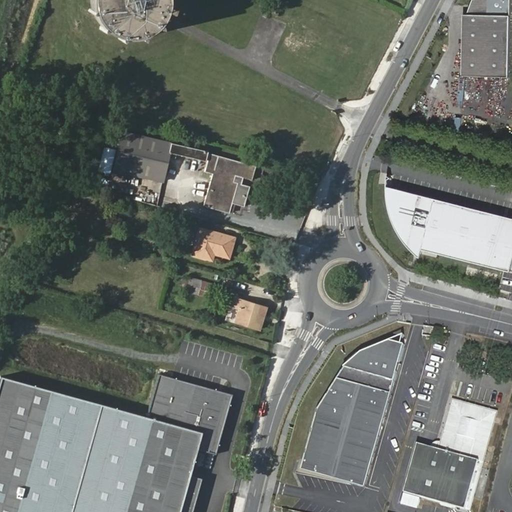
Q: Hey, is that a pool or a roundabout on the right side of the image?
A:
roundabout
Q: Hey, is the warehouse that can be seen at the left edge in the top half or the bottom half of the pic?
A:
bottom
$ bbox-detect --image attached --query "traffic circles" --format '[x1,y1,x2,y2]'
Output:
[300,241,386,327]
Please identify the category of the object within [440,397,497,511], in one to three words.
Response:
building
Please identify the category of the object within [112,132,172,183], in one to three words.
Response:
barn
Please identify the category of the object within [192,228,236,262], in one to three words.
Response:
house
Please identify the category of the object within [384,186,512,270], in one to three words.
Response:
building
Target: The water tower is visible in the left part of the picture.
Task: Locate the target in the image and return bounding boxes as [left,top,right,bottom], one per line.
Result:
[87,0,178,45]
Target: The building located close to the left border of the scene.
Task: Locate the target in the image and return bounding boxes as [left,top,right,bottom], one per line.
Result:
[0,375,202,512]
